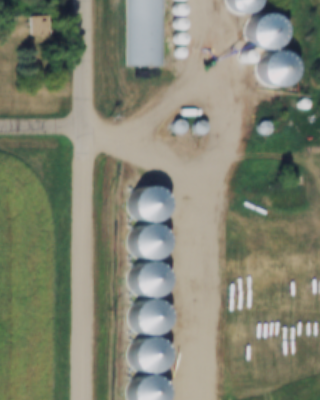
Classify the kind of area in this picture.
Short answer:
industrial area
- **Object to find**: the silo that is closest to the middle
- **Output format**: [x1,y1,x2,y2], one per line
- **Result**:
[127,184,175,222]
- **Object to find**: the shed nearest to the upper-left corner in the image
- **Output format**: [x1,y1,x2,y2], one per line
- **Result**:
[28,16,53,36]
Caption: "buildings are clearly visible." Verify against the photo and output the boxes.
[122,0,164,66]
[28,16,53,36]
